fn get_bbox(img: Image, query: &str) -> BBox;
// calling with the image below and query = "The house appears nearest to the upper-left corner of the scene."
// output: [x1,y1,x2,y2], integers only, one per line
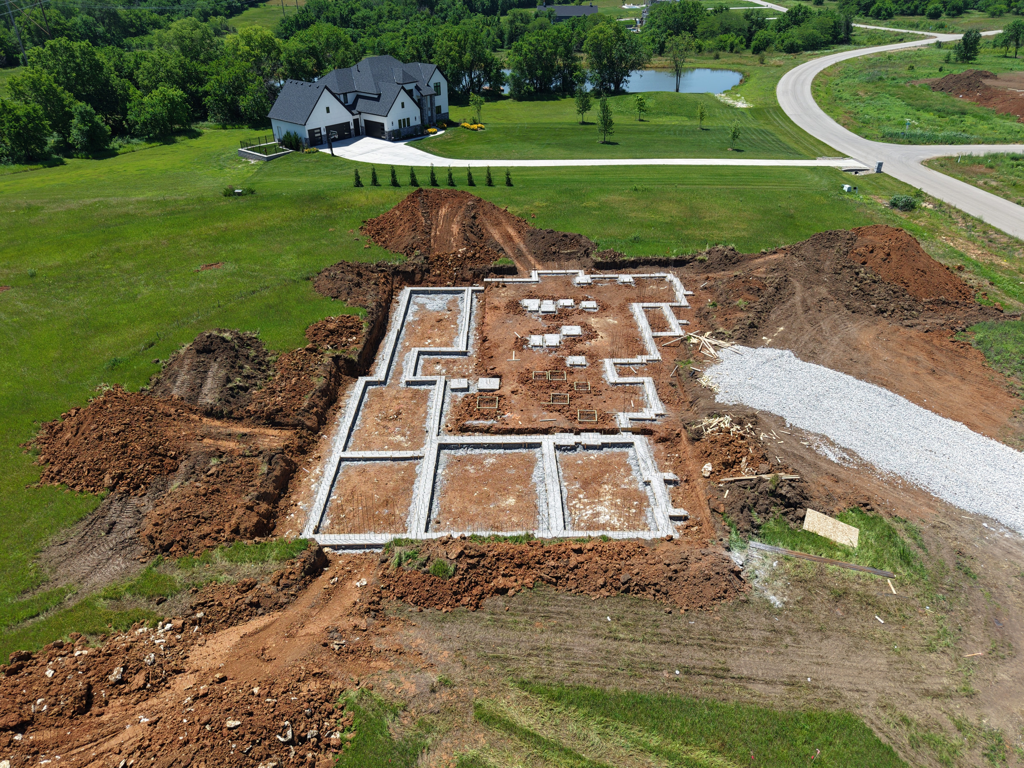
[264,55,450,146]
